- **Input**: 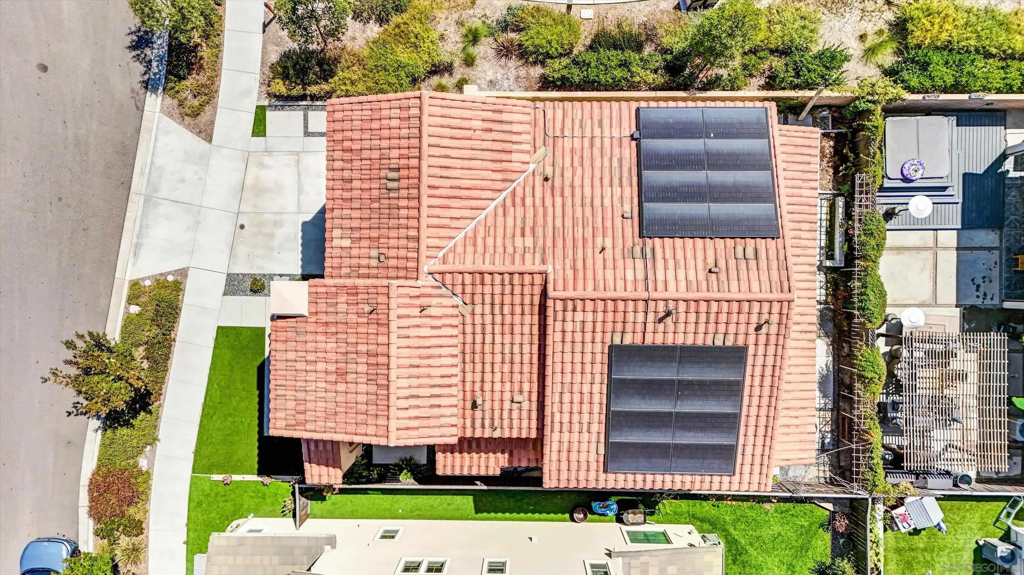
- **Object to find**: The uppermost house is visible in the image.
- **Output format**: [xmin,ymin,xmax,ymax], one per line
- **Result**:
[268,87,823,495]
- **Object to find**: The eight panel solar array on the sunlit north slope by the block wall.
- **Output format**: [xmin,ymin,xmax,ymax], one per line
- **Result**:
[636,107,781,238]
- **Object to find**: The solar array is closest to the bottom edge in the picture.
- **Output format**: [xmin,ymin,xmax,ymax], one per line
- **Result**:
[603,343,748,475]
